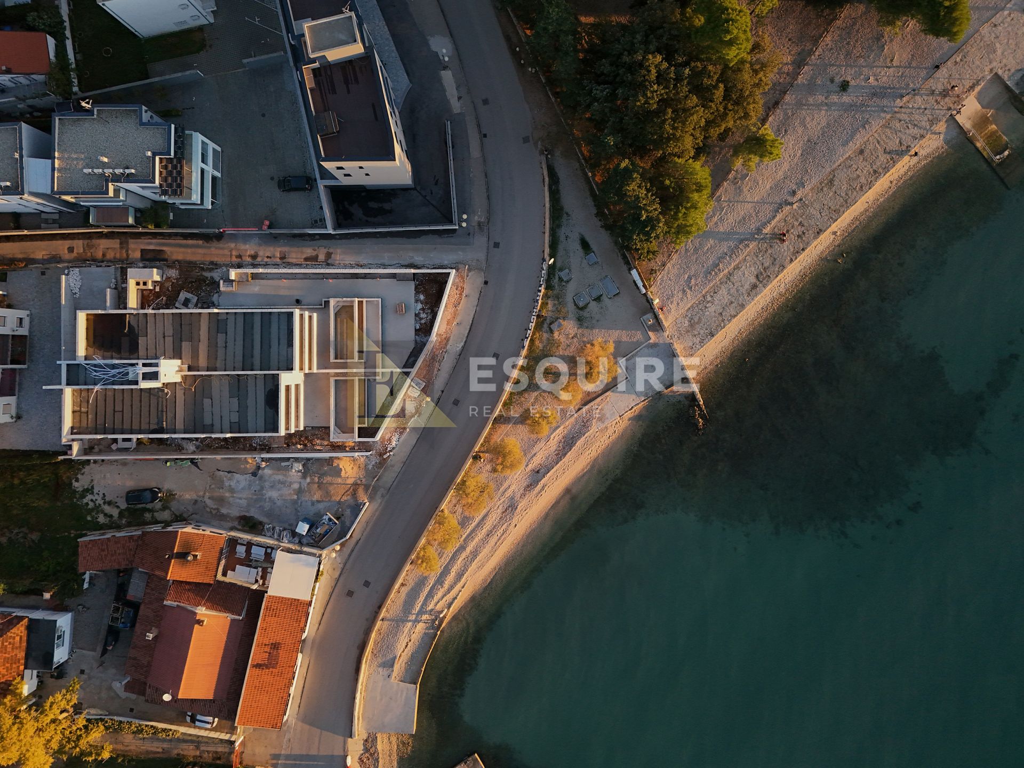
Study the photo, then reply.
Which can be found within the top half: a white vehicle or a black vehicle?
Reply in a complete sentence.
The one visible within the top half is a black vehicle.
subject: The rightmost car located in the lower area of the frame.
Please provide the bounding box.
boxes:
[184,712,217,733]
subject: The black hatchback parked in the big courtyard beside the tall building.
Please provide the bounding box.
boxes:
[276,172,312,191]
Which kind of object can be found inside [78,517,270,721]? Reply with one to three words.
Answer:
house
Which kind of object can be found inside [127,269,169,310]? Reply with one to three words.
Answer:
building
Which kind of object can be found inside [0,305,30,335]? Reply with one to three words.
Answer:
house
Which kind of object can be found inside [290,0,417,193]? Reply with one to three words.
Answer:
building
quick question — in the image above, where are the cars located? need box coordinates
[184,712,217,733]
[276,172,312,191]
[121,487,160,506]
